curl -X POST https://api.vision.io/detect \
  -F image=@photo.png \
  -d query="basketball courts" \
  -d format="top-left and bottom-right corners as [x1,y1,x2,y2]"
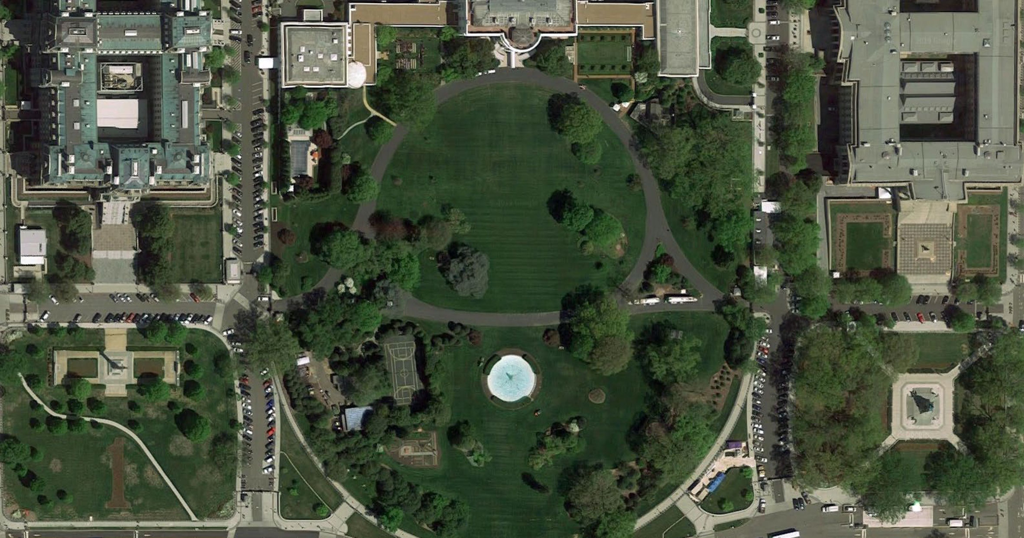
[382,334,422,405]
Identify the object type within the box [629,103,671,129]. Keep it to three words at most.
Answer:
building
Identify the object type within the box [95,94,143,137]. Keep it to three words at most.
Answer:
building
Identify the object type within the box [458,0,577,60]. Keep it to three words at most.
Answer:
house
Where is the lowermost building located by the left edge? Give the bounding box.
[14,226,47,278]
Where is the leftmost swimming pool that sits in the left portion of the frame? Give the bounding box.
[288,137,320,183]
